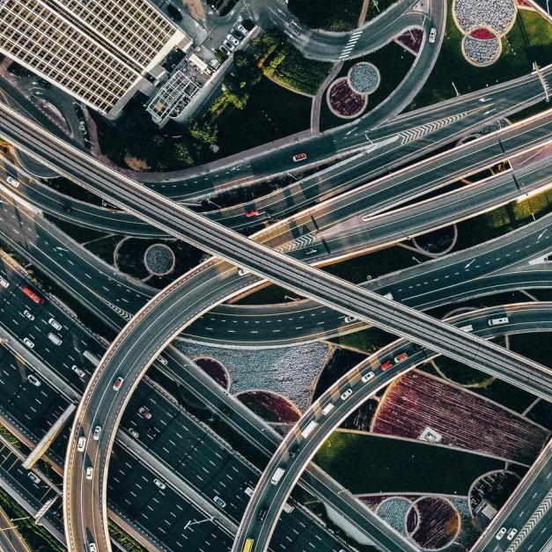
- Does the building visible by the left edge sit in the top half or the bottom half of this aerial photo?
top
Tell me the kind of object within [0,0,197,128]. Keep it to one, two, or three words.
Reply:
building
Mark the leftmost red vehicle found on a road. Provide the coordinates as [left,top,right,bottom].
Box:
[22,287,40,302]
